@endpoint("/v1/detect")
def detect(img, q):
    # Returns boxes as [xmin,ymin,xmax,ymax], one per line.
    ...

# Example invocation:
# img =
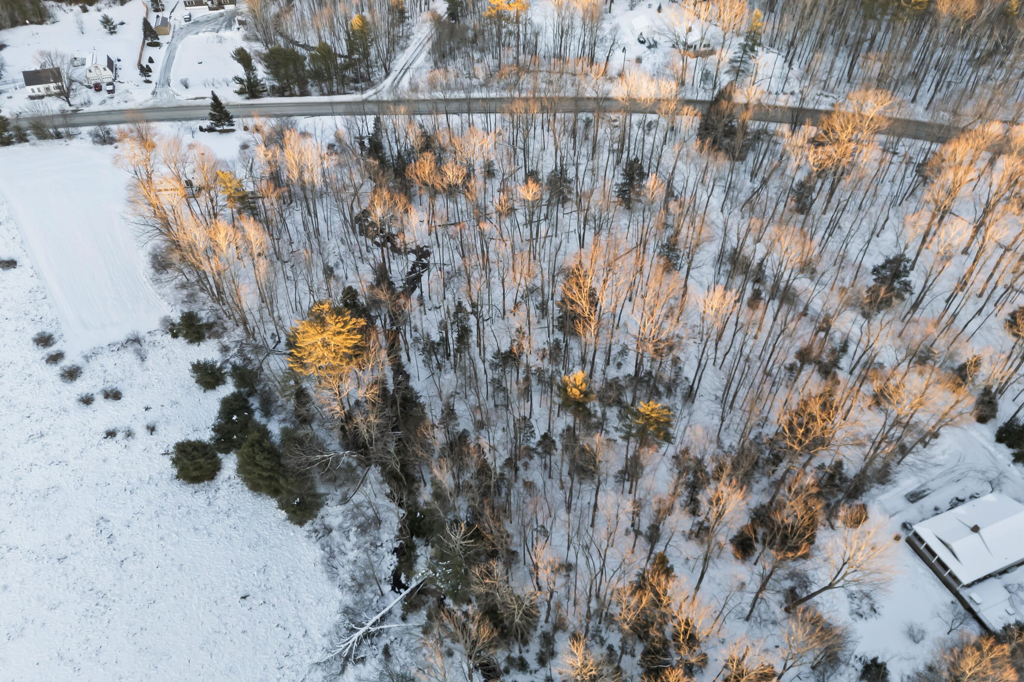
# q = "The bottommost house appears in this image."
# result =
[906,485,1024,638]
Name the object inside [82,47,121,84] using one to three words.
barn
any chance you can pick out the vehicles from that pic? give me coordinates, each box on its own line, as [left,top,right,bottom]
[104,81,115,93]
[91,81,102,92]
[183,12,192,22]
[637,33,649,43]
